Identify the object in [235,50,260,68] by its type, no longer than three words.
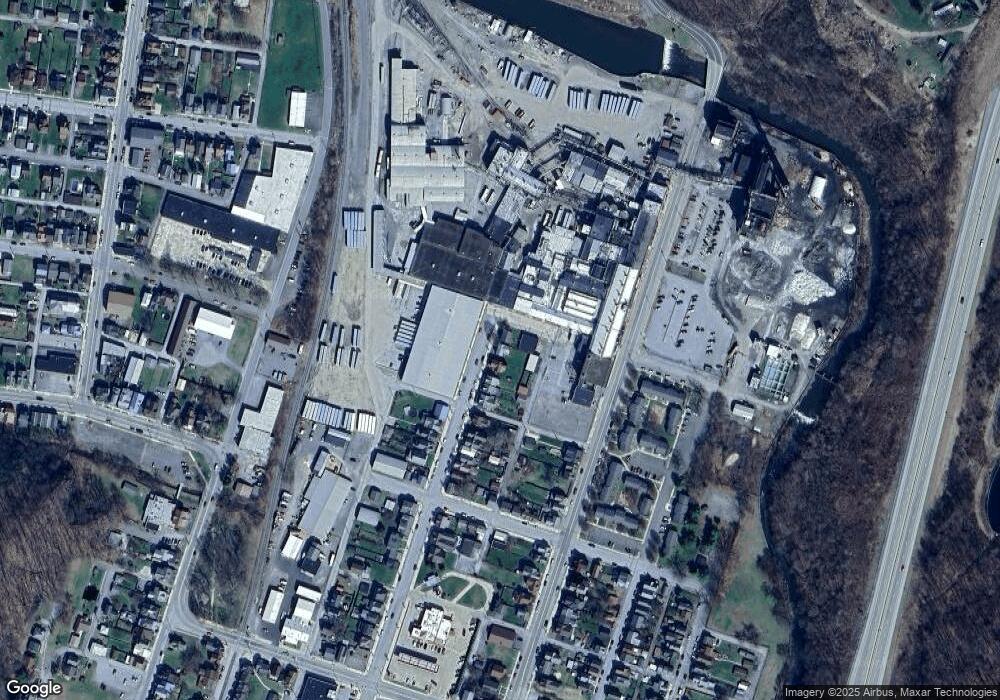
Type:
house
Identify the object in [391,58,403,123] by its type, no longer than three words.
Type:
building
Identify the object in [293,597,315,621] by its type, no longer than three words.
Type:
shed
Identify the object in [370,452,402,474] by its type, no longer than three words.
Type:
building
